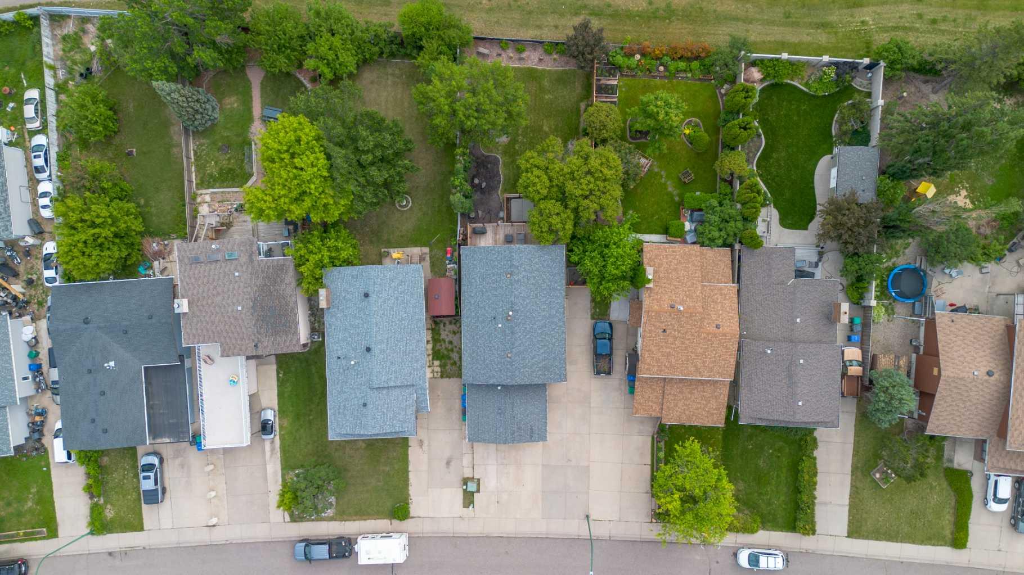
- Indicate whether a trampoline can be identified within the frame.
Yes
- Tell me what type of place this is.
residential area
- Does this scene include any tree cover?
Yes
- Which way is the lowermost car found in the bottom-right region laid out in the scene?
from side to side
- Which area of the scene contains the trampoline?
right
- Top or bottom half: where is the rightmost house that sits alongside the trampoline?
bottom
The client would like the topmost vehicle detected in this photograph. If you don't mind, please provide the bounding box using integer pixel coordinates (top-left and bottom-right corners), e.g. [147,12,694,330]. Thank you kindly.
[19,88,46,132]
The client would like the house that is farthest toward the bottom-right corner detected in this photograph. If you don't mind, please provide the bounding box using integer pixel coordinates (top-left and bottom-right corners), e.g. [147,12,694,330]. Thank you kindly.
[915,294,1024,476]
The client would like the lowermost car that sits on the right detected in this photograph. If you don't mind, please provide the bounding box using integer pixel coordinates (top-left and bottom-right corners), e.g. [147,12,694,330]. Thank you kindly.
[735,546,786,572]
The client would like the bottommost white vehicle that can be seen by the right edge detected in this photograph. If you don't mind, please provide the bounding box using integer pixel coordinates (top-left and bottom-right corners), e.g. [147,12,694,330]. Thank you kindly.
[985,474,1013,512]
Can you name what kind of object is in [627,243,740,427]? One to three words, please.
house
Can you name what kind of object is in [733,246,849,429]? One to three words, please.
house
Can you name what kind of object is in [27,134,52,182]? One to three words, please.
car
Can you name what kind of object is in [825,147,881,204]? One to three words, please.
shed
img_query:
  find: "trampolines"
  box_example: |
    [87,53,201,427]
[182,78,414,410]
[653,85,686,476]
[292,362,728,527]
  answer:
[887,264,931,302]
